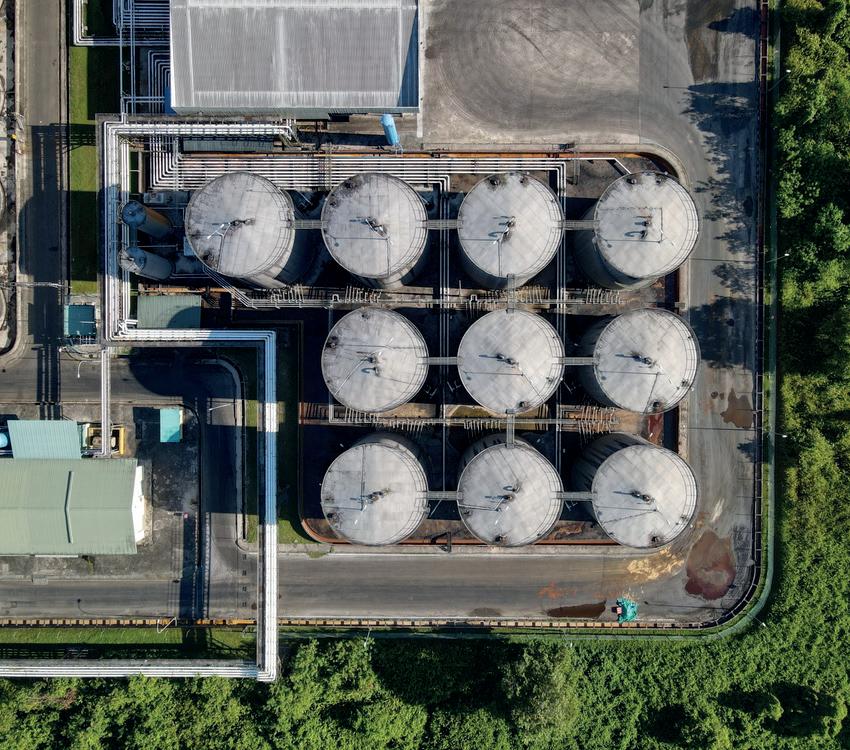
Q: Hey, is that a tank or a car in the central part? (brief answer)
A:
tank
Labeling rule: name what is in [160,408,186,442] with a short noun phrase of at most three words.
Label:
shed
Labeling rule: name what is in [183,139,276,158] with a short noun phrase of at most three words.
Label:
shed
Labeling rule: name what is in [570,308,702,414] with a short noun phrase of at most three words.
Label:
storage tank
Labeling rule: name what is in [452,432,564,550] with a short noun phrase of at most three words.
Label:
storage tank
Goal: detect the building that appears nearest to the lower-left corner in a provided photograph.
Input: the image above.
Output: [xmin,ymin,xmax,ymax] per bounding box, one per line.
[0,458,145,555]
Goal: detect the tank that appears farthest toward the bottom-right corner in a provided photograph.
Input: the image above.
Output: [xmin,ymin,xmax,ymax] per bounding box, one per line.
[568,433,701,551]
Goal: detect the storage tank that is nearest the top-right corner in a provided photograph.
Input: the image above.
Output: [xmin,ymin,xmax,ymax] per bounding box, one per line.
[570,170,702,292]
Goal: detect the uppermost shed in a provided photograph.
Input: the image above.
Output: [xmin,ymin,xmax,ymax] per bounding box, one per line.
[165,0,418,122]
